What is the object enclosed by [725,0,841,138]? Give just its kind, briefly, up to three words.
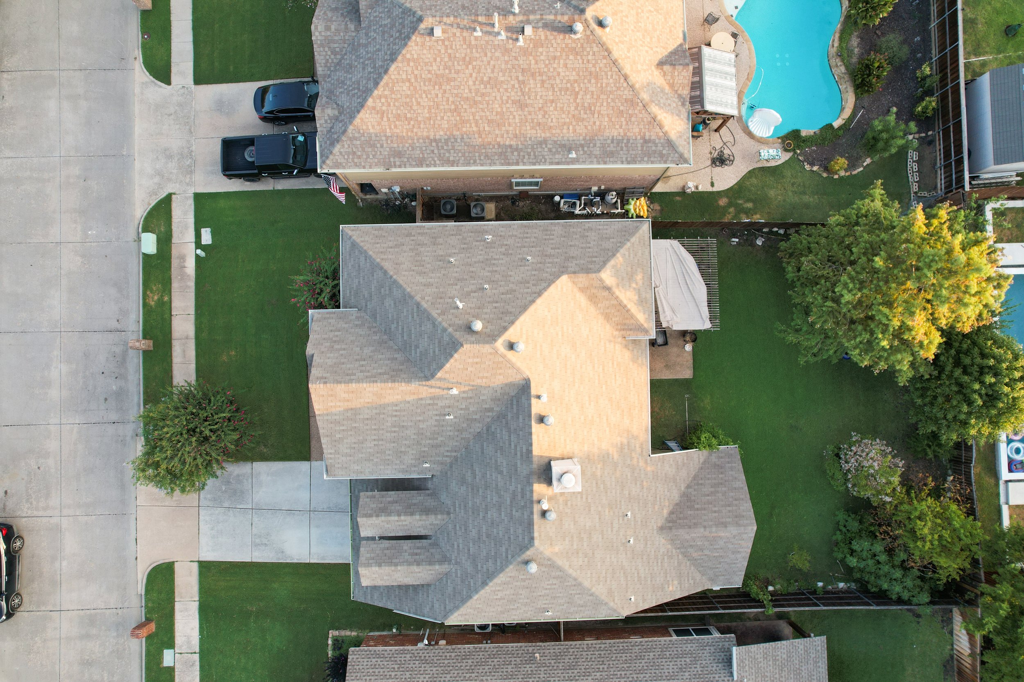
swimming pool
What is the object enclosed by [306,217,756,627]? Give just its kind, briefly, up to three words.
house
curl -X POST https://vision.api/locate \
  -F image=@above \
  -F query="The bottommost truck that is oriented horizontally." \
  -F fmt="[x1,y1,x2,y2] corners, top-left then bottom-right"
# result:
[221,131,333,180]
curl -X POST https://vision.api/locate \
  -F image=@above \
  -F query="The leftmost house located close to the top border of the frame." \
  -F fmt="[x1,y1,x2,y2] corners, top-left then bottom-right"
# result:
[311,0,694,214]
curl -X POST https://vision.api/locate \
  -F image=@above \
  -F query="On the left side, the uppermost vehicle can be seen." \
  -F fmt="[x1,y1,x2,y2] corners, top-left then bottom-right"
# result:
[254,79,317,123]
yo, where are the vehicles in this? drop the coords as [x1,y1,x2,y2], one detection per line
[254,79,317,123]
[221,131,333,180]
[0,525,24,621]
